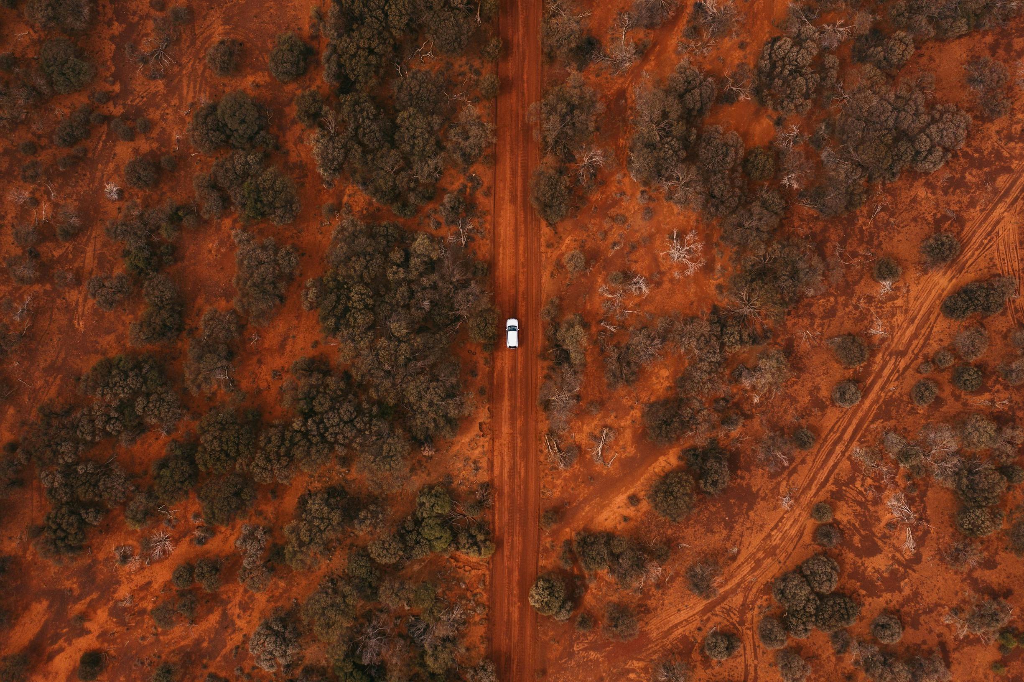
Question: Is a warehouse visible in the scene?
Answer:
No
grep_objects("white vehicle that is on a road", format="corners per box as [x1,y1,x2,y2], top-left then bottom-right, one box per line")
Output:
[506,318,520,349]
